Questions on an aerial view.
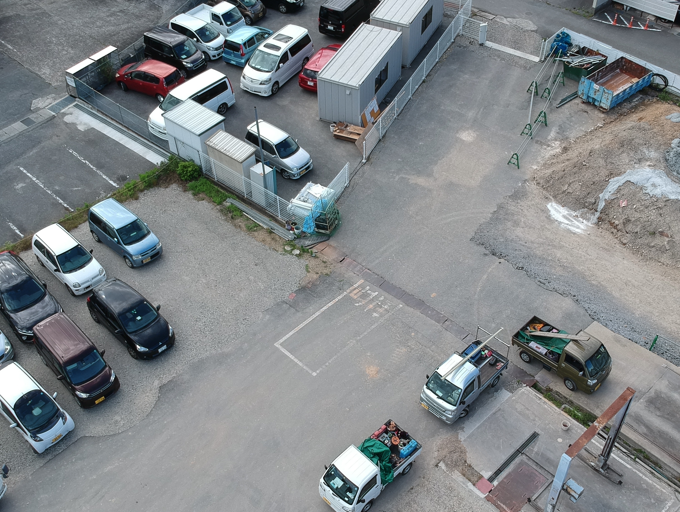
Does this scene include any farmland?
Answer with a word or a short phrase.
No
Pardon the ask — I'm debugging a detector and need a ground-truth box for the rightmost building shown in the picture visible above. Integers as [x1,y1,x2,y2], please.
[370,0,444,67]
